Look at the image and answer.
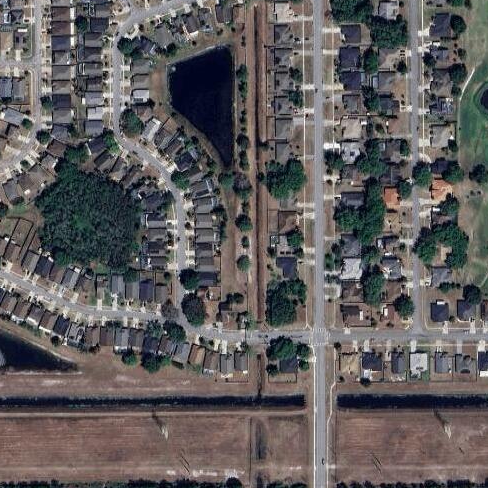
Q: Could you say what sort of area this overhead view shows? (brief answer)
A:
residential area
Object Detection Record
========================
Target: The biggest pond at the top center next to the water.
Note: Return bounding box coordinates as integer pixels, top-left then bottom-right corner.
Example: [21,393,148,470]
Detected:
[166,46,234,164]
